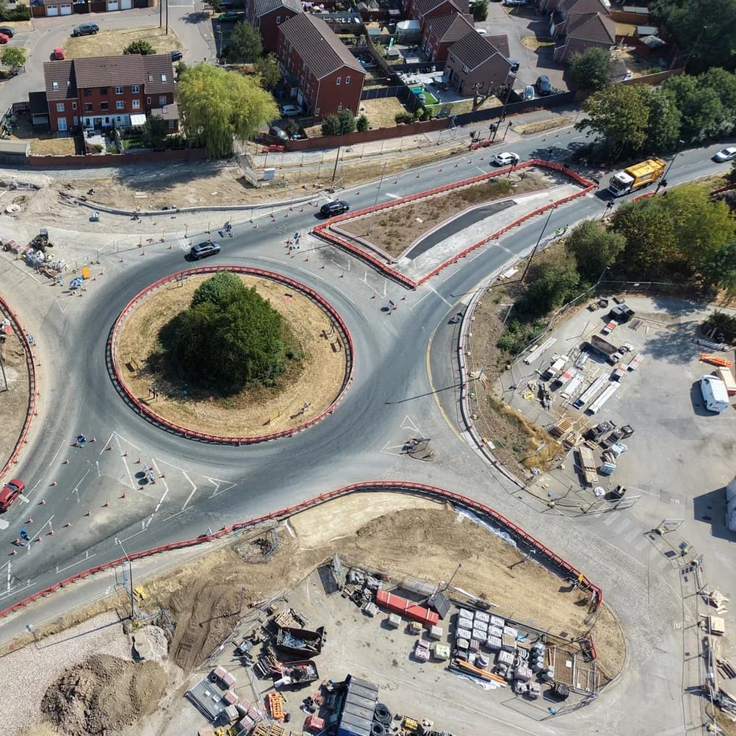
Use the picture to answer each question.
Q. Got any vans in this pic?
Yes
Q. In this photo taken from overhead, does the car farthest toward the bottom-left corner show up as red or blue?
red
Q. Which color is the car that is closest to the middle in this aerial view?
black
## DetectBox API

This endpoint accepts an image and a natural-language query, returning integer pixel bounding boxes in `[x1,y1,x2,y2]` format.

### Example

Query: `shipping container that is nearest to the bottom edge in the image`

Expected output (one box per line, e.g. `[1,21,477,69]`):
[335,675,380,736]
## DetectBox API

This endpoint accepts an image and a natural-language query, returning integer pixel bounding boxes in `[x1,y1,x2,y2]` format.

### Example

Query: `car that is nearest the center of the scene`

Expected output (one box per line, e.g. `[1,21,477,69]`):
[319,199,352,218]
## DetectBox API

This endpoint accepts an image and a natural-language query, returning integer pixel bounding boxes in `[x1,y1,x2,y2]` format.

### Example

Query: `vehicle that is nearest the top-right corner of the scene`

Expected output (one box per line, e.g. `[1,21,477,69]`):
[712,146,736,164]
